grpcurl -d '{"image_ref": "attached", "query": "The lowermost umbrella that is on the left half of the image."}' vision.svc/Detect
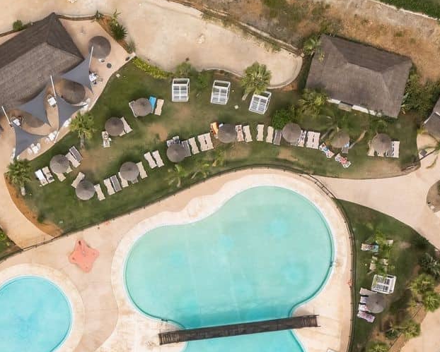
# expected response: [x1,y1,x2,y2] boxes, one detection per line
[74,179,95,200]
